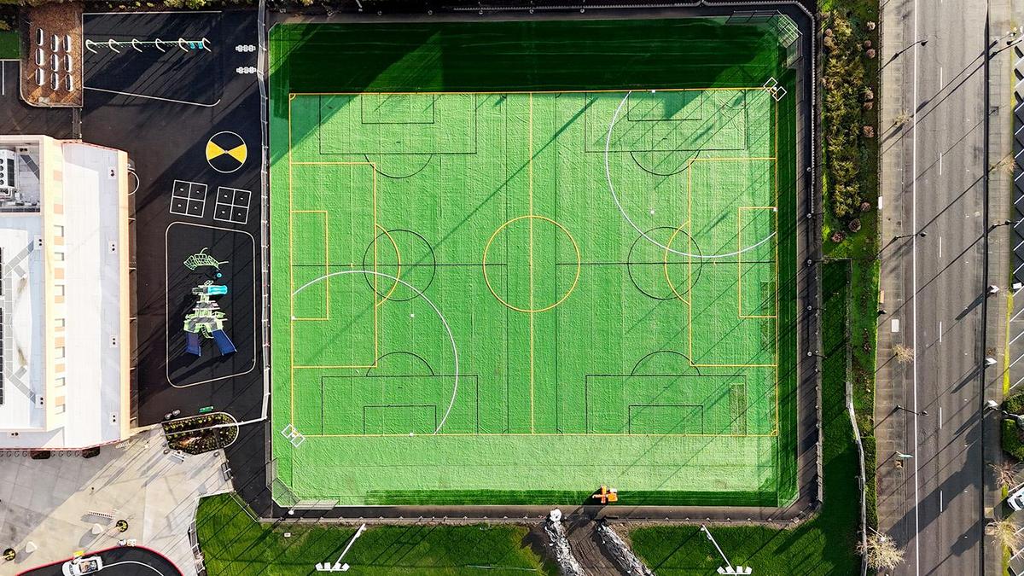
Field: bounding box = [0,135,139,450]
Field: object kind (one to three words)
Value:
building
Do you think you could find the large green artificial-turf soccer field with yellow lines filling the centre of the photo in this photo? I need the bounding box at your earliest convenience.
[269,15,799,508]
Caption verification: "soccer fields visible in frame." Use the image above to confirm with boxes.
[298,92,508,435]
[556,90,767,435]
[269,15,799,508]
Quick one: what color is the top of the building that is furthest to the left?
white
